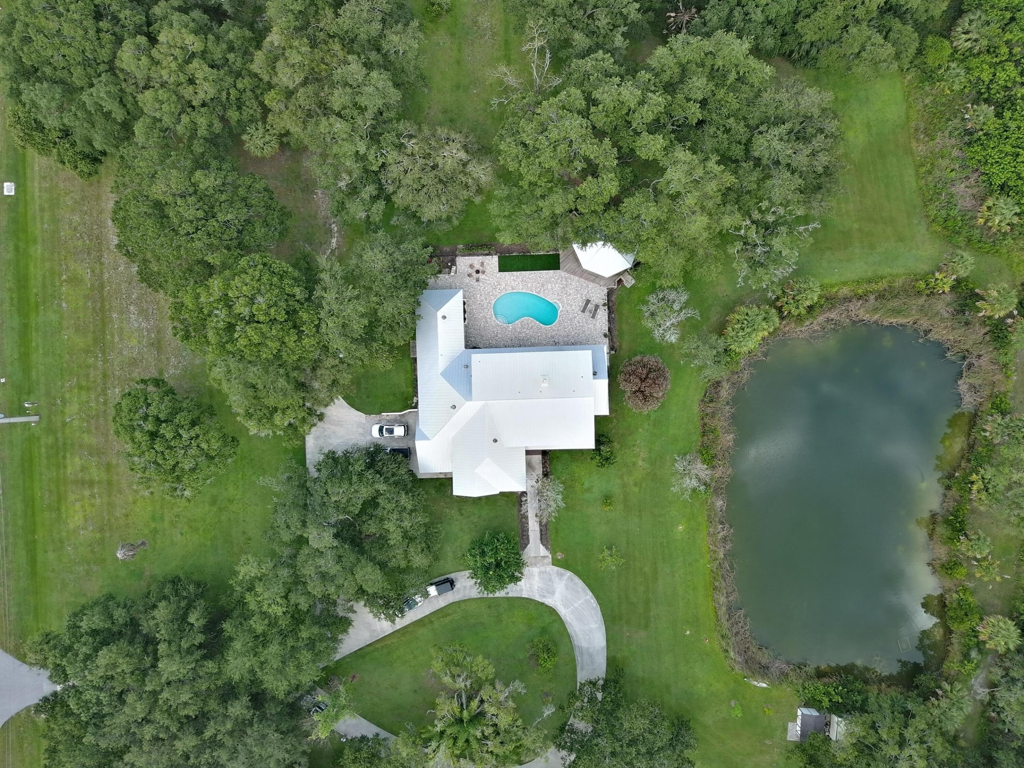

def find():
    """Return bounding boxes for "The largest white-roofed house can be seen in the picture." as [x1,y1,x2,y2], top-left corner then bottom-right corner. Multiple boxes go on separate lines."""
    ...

[415,289,609,497]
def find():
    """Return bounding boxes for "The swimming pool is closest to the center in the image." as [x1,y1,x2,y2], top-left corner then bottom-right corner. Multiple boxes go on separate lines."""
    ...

[491,290,563,327]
